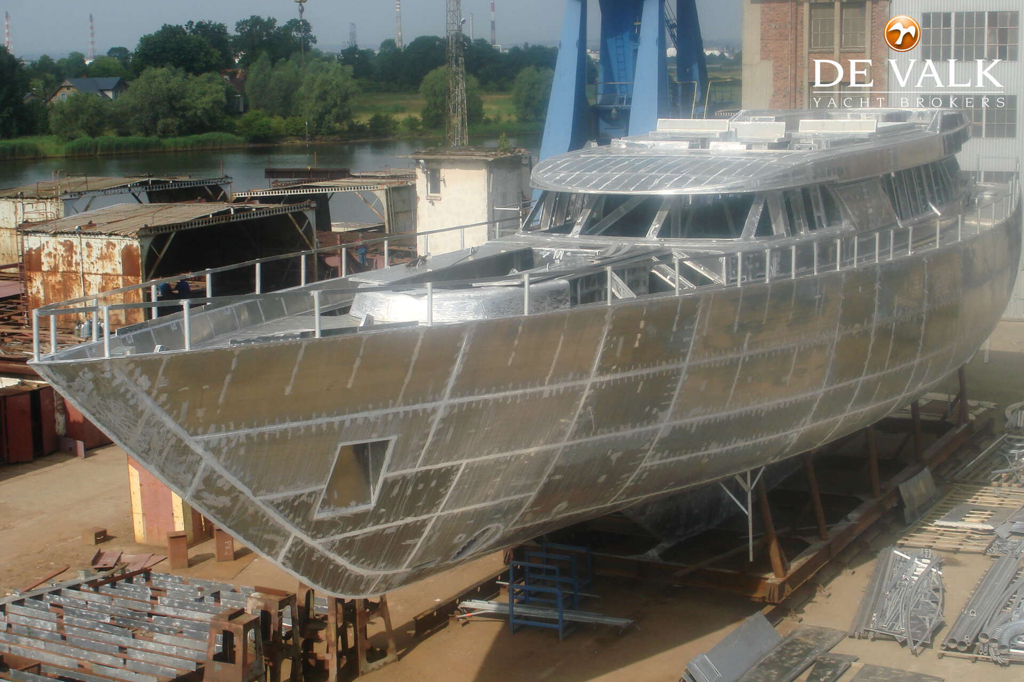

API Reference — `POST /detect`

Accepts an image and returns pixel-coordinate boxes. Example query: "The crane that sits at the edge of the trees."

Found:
[530,0,707,227]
